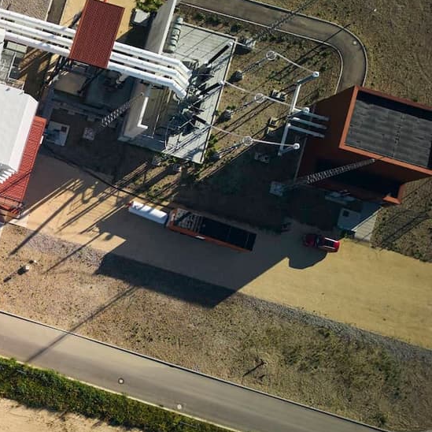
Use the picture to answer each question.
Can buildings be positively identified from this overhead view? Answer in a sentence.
Yes, a building is visible in the scene.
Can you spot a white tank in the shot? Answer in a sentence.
No, the scene contains no white tank.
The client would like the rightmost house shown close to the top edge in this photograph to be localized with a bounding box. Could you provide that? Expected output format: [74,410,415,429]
[38,0,126,93]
